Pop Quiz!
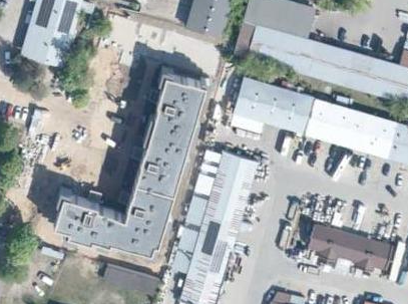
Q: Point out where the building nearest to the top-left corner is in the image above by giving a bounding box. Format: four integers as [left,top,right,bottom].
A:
[28,106,45,137]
